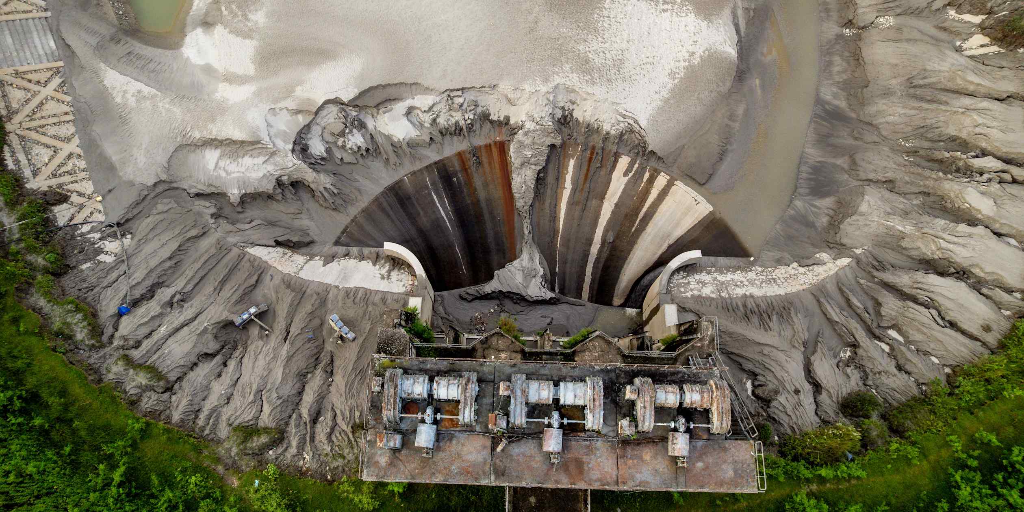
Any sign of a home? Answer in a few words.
No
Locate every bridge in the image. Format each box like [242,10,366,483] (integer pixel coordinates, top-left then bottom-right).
[505,487,591,512]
